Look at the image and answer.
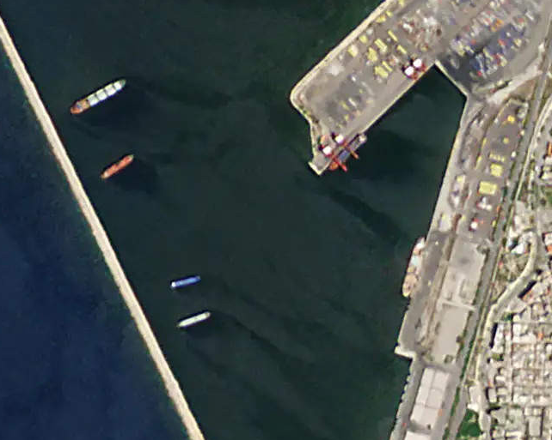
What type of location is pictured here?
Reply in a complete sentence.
What you see here is a port.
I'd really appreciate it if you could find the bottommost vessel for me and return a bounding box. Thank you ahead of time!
[178,312,211,327]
